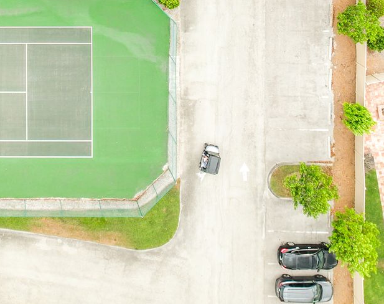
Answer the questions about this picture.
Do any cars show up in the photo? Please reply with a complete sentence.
Yes, I can see a car in this picture.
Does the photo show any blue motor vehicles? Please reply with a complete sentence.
No, no blue motor vehicle is visible in the scene.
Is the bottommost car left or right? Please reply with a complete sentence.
The bottommost car is on the right side of the image.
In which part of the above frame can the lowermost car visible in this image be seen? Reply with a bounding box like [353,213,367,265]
[277,272,334,304]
